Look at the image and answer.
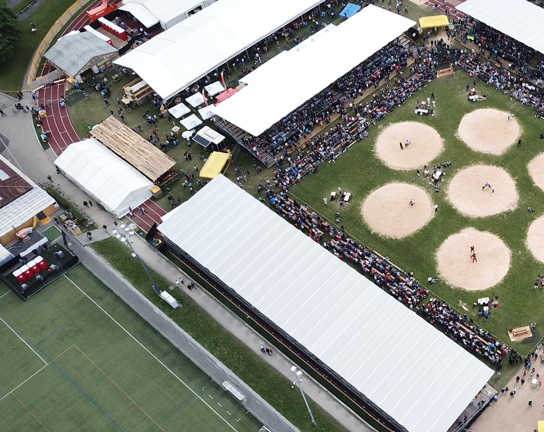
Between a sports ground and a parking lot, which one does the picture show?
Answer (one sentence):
This image shows a sports ground.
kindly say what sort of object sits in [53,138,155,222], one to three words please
tent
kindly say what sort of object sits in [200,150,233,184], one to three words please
tent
